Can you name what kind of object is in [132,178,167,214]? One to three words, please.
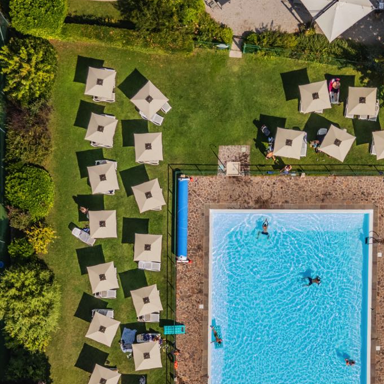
umbrella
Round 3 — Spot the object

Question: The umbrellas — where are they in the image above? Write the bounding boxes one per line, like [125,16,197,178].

[318,124,356,162]
[134,132,163,162]
[132,233,162,263]
[85,310,121,346]
[86,161,119,194]
[88,210,117,240]
[130,282,164,316]
[85,67,118,101]
[87,363,122,384]
[85,260,119,294]
[372,130,384,160]
[347,86,377,117]
[272,126,306,160]
[129,81,171,121]
[84,112,119,149]
[132,338,163,370]
[132,178,167,214]
[298,81,331,115]
[300,0,374,42]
